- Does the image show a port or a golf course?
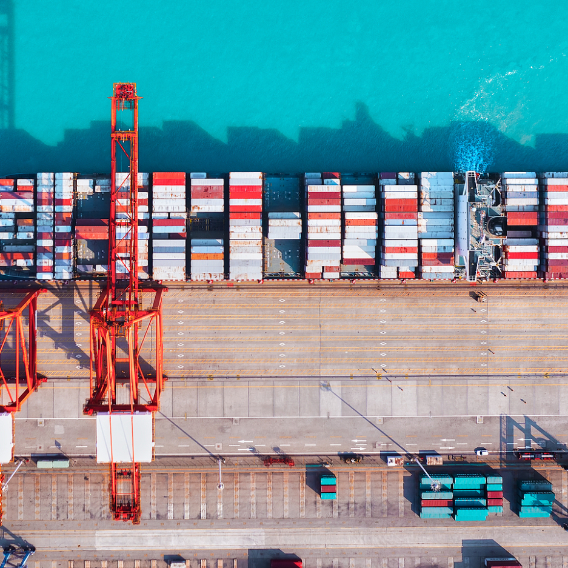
port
